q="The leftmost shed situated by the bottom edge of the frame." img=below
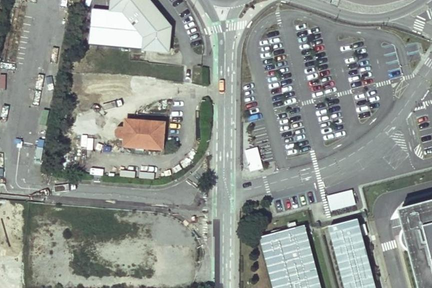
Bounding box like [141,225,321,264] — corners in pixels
[260,226,320,288]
